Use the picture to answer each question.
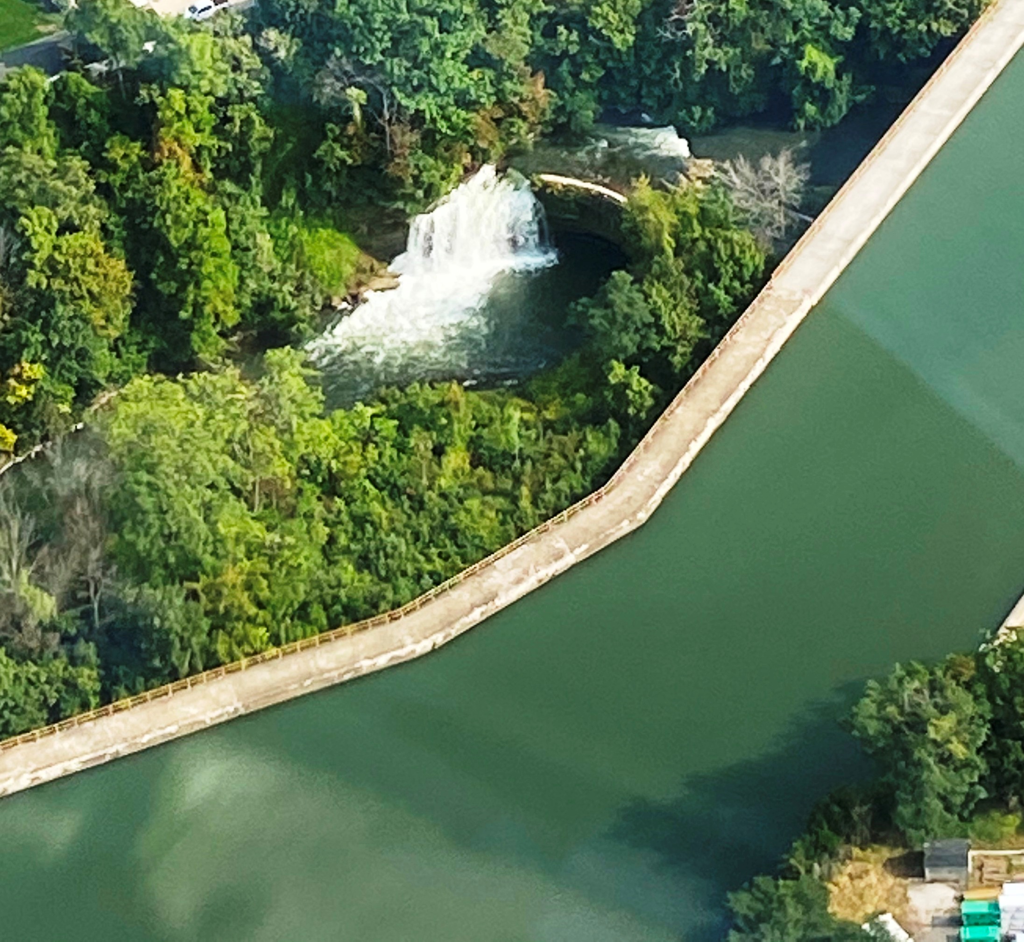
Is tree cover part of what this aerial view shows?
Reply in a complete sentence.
Yes, tree cover shows up in the scene.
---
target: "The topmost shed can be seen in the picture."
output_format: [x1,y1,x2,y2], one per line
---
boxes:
[920,836,970,880]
